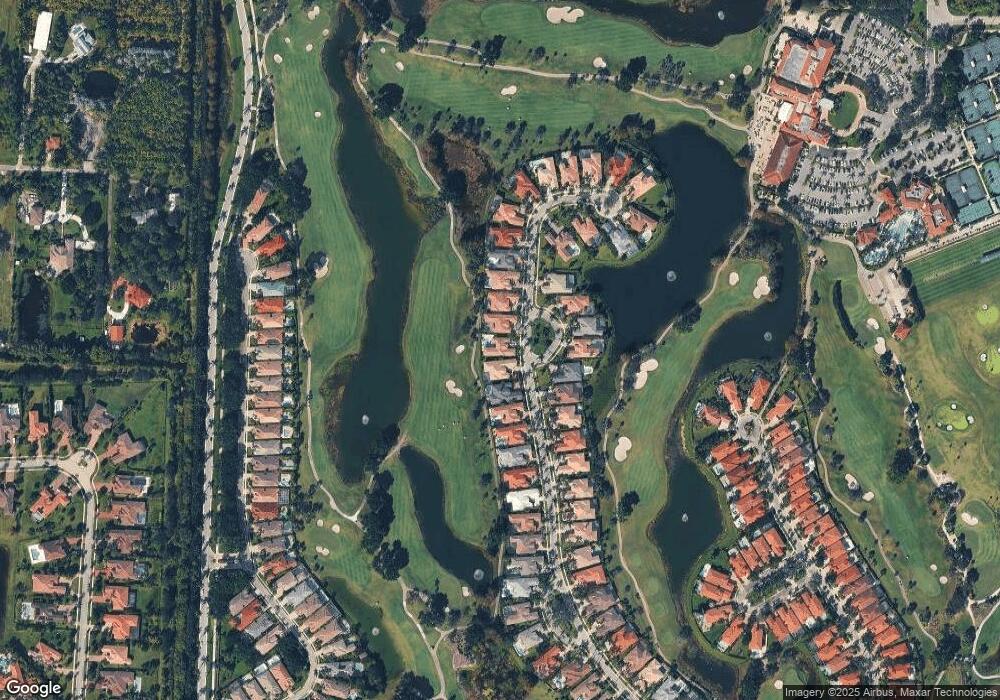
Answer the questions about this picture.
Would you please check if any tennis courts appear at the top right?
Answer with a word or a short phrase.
Yes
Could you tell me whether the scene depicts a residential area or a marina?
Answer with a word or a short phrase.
residential area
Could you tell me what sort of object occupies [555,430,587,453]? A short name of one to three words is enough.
house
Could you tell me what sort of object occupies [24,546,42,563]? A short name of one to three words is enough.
swimming pool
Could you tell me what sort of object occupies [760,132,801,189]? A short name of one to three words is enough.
building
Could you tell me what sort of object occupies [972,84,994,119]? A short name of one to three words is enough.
tennis court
